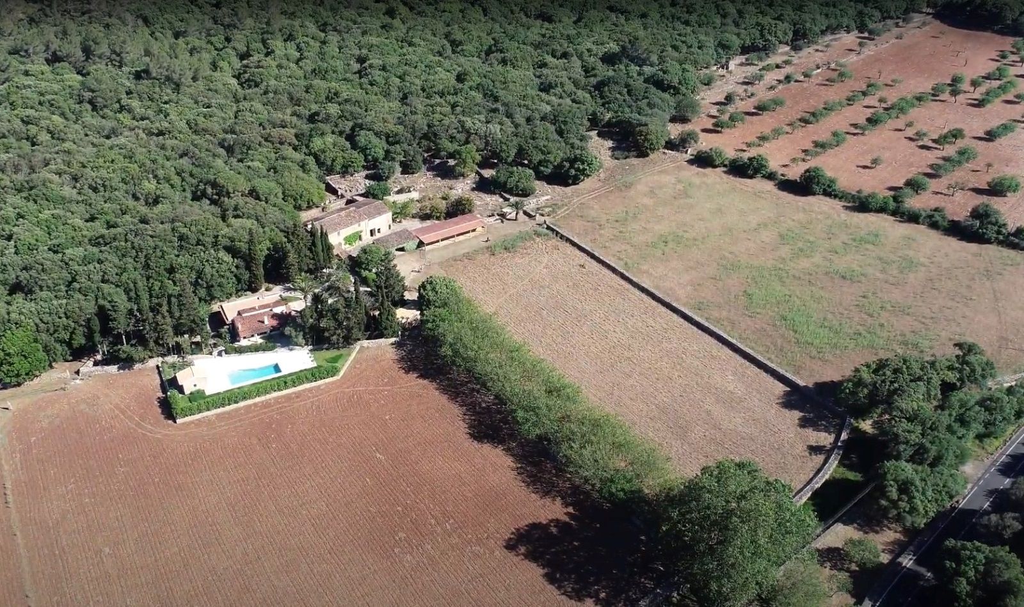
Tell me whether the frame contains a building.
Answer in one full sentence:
Yes, you can see a building in this photo.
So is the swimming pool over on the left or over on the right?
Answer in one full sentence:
It is on the left.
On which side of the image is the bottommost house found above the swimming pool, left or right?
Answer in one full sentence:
It is on the left.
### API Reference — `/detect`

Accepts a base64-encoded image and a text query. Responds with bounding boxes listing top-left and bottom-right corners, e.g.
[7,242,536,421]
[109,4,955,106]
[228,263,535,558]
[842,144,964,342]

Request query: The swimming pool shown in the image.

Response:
[227,363,283,386]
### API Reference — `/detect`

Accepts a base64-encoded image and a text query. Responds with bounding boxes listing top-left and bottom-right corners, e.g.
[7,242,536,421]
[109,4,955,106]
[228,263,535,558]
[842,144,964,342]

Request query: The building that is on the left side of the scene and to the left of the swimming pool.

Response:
[180,366,210,394]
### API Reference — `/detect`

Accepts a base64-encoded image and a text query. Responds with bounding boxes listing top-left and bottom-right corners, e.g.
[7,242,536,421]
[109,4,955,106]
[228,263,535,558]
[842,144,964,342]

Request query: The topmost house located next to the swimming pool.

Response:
[219,291,299,357]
